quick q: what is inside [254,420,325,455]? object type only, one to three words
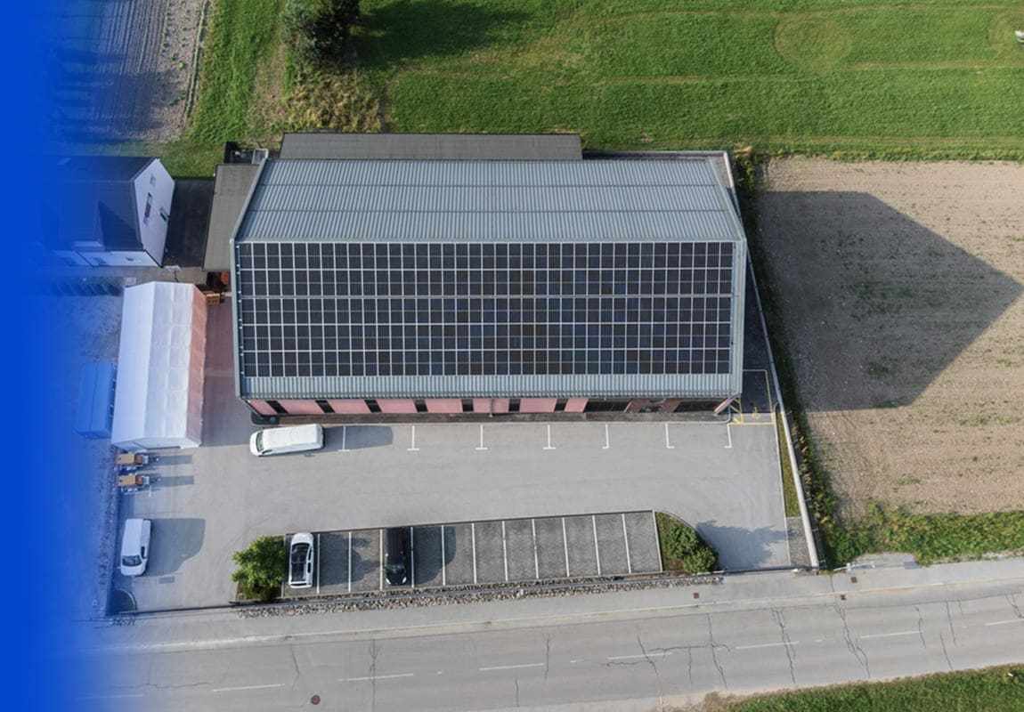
van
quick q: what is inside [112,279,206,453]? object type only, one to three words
tent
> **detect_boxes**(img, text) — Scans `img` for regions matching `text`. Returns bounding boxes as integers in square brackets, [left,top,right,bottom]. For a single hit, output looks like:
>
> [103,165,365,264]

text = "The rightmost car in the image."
[380,524,408,588]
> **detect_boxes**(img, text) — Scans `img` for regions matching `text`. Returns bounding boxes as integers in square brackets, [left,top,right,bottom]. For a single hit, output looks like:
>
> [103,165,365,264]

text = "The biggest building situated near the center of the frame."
[230,155,747,419]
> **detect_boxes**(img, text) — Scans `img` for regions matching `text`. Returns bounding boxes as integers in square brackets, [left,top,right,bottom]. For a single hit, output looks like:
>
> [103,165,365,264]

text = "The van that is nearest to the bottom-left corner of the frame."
[116,514,153,580]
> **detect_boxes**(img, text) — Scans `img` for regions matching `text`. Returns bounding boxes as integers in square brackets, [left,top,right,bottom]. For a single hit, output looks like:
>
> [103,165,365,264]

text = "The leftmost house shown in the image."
[0,160,172,267]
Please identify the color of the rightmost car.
black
